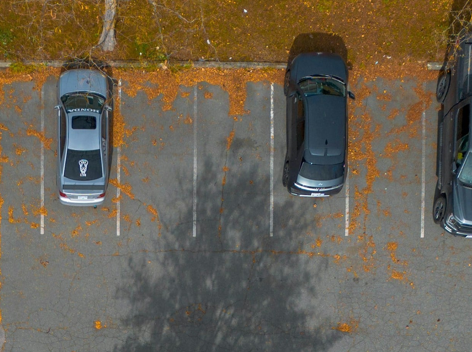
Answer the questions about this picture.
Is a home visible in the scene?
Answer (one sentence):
No, there is no home in the image.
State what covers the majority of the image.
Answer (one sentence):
For the most part, this view shows paved ground.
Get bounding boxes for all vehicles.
[282,54,355,195]
[438,32,472,236]
[52,69,115,210]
